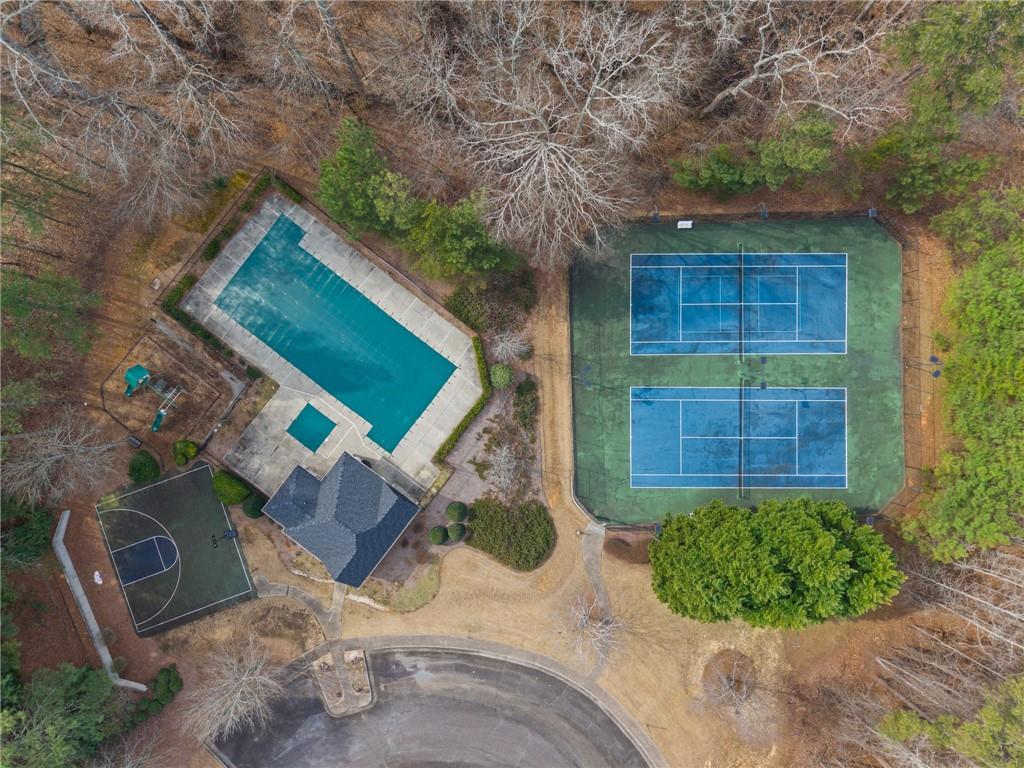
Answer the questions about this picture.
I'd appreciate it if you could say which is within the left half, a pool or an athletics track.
pool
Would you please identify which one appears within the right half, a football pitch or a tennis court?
tennis court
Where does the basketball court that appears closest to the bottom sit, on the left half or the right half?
left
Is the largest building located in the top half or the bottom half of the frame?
bottom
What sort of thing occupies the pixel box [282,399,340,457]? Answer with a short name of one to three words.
swimming pool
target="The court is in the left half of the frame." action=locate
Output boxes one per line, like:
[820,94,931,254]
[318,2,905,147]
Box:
[94,460,258,637]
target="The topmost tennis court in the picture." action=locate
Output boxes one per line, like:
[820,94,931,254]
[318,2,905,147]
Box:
[630,253,848,355]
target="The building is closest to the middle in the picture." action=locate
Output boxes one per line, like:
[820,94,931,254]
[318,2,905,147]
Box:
[258,452,422,587]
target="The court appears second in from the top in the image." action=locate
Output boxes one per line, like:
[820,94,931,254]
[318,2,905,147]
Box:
[630,387,848,489]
